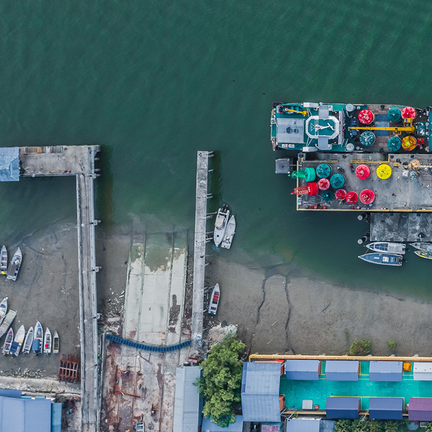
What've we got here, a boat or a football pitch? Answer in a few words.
boat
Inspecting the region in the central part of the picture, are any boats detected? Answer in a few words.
Yes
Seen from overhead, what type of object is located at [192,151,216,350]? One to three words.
pier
